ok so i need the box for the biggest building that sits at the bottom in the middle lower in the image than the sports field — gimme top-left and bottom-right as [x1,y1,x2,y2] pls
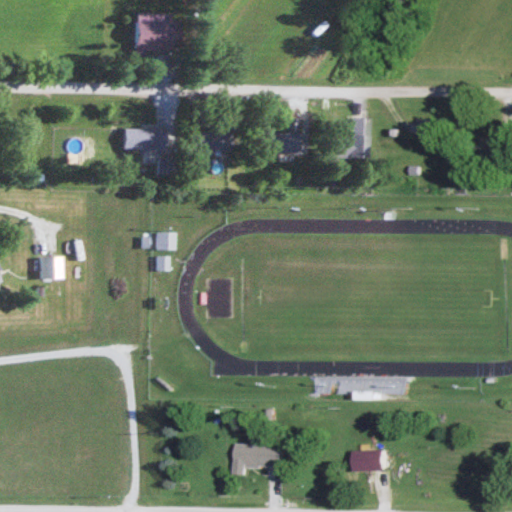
[232,444,284,476]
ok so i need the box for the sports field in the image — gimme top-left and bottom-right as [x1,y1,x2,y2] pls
[263,249,489,347]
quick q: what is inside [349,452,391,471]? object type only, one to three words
house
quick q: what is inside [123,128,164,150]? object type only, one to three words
house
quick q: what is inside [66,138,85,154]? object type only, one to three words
swimming pool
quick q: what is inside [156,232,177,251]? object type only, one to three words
shed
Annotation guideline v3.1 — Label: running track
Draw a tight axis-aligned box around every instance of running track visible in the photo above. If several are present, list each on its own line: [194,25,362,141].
[180,220,512,376]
